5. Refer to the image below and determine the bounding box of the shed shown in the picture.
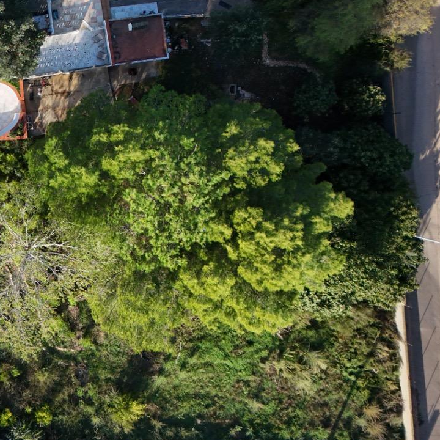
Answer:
[104,13,170,68]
